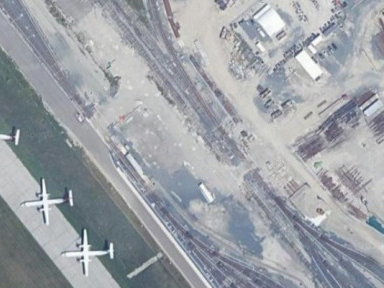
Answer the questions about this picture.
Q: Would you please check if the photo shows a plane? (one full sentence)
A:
Yes, there is a plane in the image.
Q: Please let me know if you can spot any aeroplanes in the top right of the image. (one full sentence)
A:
No, in the top right of the image there is no aeroplane.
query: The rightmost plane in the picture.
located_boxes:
[61,230,113,277]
